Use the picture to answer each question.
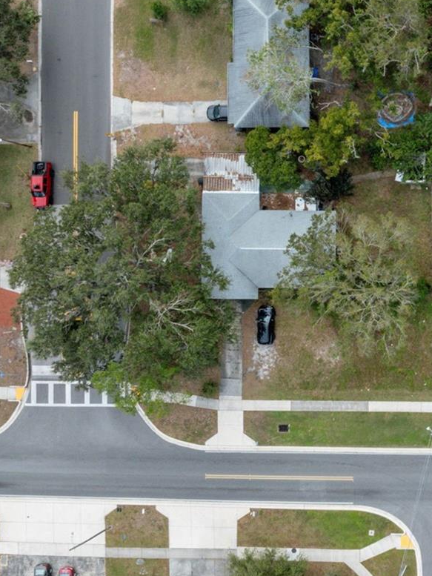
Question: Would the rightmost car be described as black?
Yes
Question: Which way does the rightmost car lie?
from top to bottom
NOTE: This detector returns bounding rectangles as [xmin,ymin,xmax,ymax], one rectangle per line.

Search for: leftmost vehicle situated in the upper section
[29,160,56,210]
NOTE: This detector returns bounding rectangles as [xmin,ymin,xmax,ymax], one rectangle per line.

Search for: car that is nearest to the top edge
[202,102,228,122]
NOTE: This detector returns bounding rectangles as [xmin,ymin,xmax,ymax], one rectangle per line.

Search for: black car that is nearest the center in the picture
[255,304,276,345]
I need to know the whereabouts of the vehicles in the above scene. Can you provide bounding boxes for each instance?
[29,160,56,210]
[255,304,276,345]
[31,561,54,576]
[58,563,78,576]
[202,102,228,122]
